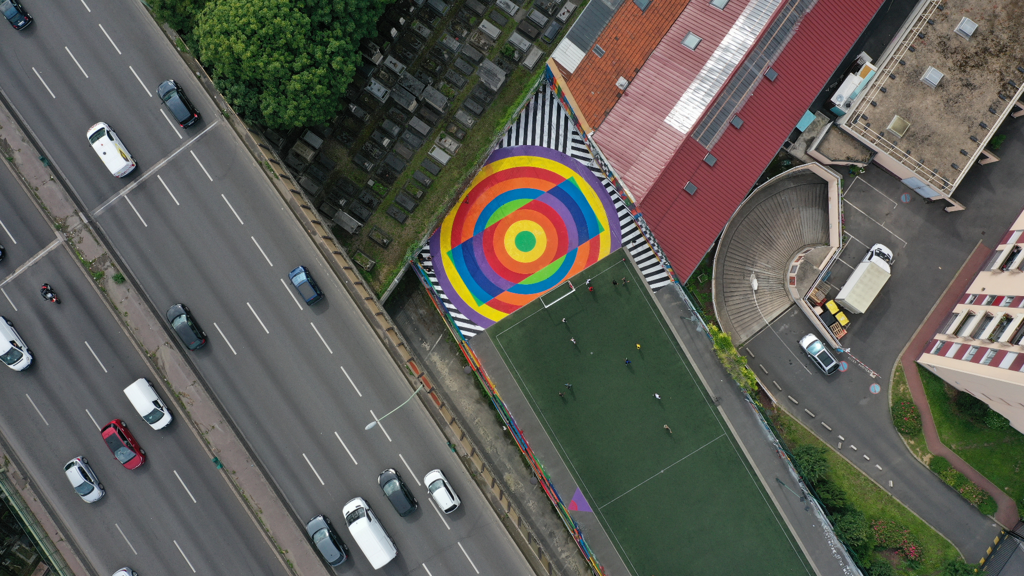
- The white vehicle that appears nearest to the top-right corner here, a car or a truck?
truck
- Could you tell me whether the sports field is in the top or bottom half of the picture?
bottom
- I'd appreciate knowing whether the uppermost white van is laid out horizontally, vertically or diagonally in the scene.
diagonally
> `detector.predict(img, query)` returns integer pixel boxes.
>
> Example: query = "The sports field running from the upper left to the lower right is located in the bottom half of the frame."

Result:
[486,249,813,576]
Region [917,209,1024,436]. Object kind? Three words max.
building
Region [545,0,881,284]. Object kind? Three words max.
building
